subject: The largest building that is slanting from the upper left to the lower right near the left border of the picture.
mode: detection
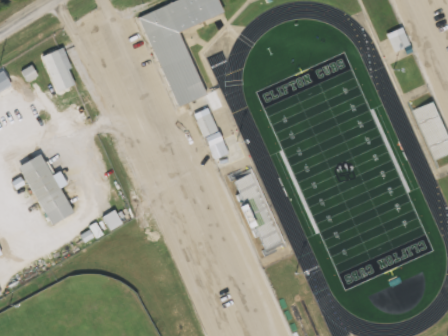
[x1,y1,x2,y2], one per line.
[20,156,74,225]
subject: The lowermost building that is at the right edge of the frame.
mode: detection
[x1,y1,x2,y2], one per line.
[412,102,448,160]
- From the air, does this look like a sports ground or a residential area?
sports ground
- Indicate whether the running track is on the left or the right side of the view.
right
